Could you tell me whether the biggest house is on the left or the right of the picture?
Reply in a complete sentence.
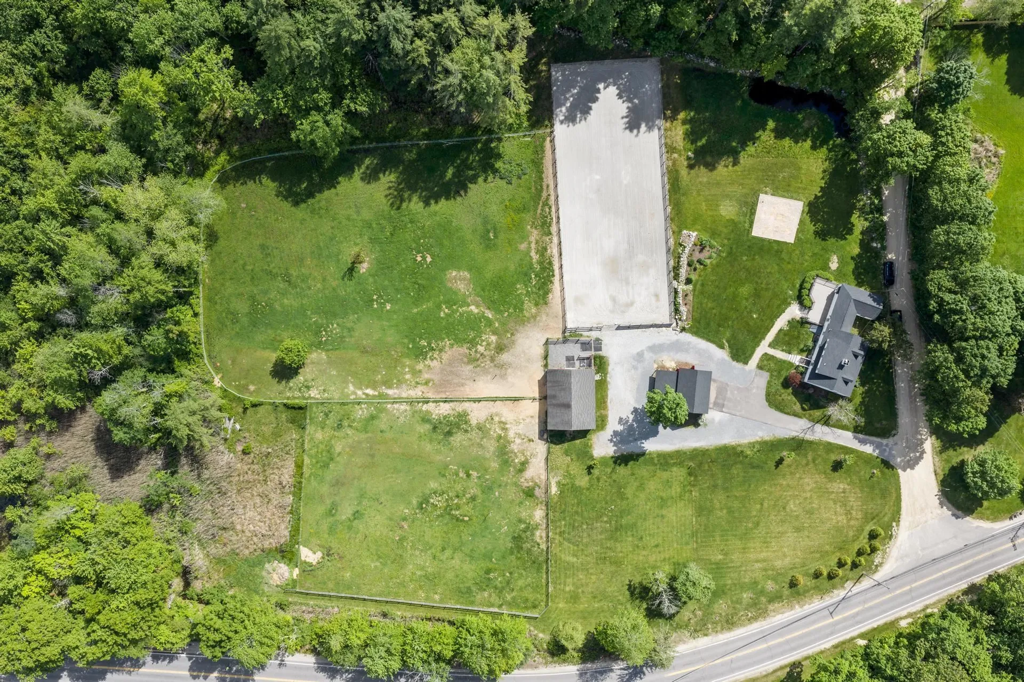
The biggest house appears in the right half of the scene.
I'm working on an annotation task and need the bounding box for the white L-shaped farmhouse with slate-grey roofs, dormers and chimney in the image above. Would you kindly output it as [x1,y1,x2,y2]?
[799,281,883,397]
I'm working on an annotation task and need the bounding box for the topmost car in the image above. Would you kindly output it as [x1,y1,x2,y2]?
[881,261,894,284]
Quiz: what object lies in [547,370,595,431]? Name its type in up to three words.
barn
